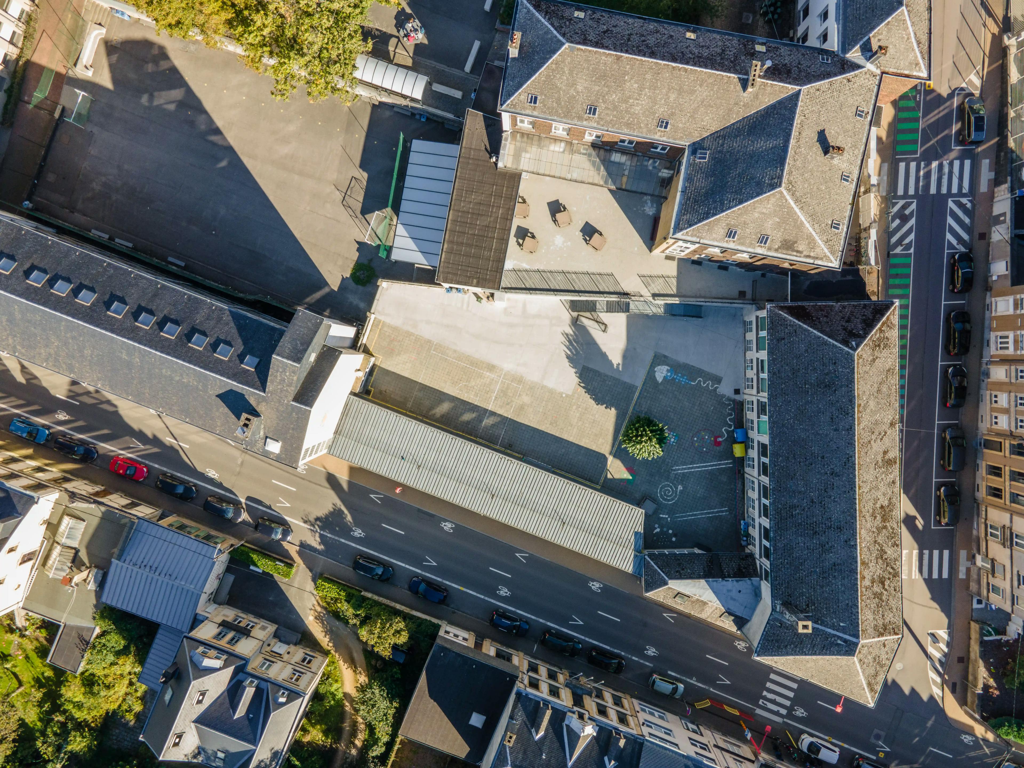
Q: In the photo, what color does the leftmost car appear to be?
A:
blue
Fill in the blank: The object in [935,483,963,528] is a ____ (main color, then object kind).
black car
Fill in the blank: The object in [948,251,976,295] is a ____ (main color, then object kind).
black car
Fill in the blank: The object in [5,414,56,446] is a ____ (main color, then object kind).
blue car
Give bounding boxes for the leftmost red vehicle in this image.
[106,453,153,483]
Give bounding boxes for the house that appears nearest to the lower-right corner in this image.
[970,501,1024,617]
